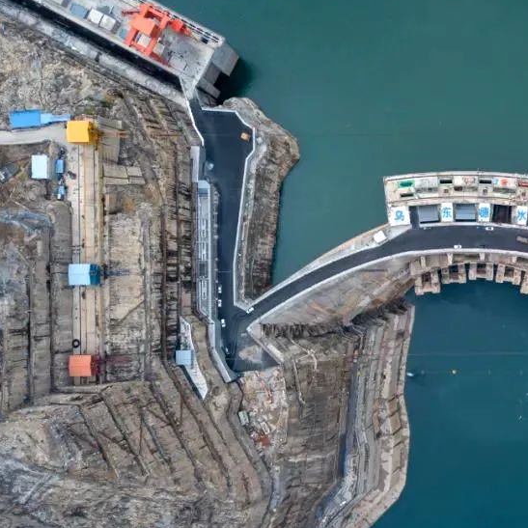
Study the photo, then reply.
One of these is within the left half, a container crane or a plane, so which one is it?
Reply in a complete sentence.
Looking within the left half, you will find a container crane.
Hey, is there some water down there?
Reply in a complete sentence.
Yes, some water is visible.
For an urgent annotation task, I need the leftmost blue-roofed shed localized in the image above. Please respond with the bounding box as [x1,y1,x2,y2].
[9,109,45,130]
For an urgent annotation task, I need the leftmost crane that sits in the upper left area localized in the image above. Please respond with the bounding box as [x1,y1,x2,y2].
[67,120,143,144]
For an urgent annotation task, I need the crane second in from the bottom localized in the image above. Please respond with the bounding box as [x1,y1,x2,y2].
[67,263,143,286]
